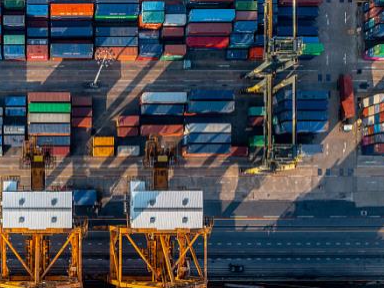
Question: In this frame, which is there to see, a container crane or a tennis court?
container crane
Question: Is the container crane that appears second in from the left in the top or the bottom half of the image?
bottom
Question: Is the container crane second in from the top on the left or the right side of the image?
right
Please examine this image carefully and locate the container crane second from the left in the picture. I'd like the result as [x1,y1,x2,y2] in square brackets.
[92,135,215,288]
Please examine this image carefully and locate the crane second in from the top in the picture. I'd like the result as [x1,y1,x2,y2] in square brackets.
[236,73,302,176]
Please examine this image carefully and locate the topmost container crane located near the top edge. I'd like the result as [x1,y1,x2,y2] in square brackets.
[236,0,302,81]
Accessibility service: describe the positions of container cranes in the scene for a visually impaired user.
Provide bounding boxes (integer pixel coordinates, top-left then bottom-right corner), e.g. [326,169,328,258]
[236,0,302,81]
[236,73,302,176]
[0,135,90,288]
[92,135,215,288]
